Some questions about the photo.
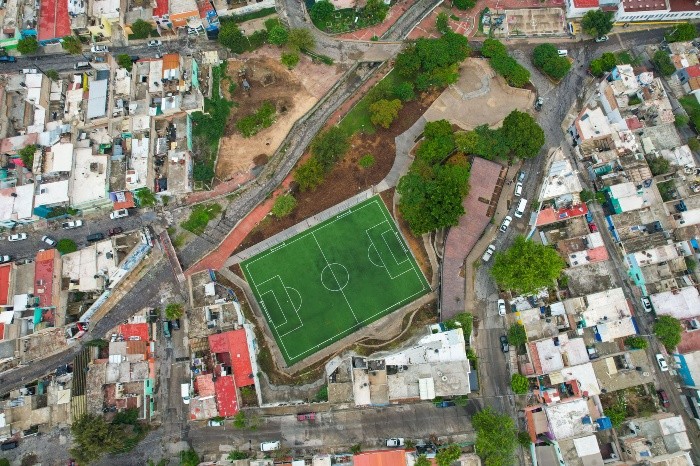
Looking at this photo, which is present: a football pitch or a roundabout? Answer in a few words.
football pitch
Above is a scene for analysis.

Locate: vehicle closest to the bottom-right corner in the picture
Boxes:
[656,387,671,409]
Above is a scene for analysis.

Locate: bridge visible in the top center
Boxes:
[357,38,405,64]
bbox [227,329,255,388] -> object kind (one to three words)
house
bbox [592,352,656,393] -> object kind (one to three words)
house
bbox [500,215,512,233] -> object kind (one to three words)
vehicle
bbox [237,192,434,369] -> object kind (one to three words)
soccer field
